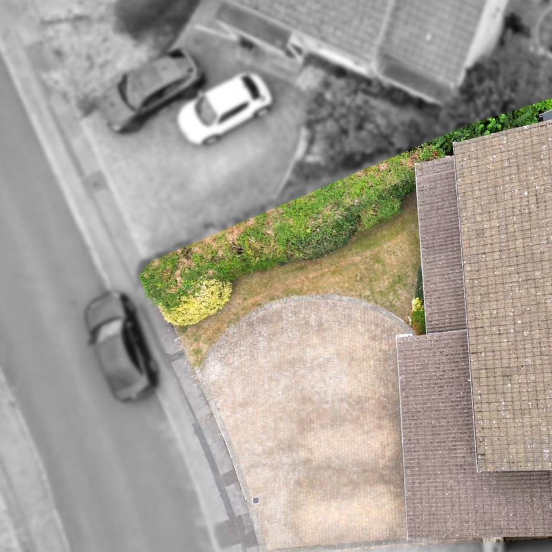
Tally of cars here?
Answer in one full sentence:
The photo contains 3 cars.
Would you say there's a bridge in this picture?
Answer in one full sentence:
No, I find no bridge anywhere in the image.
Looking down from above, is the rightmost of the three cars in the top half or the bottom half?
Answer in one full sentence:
Seen from above, the rightmost of the three cars lies in the top half of the view.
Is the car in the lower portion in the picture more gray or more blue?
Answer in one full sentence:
The car in the lower portion looks gray in the image.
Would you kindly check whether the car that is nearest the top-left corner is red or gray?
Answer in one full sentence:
The car that is nearest the top-left corner looks gray in the image.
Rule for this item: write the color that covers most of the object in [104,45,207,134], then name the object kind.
gray car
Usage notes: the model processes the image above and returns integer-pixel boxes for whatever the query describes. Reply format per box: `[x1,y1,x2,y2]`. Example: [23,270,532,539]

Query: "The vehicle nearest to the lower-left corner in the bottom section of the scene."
[87,291,162,403]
